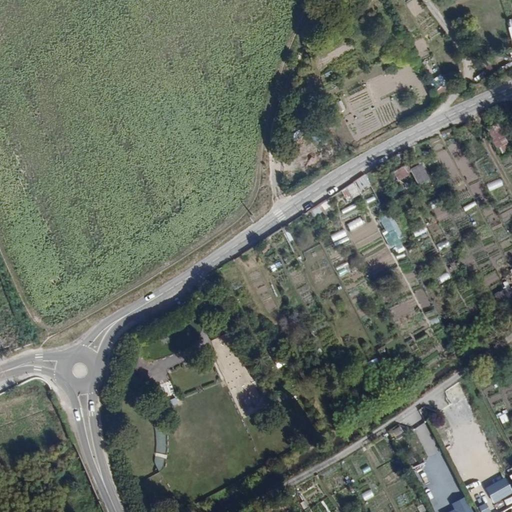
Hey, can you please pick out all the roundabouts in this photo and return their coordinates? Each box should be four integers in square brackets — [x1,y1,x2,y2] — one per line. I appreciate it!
[58,348,102,391]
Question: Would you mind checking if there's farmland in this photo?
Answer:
Yes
